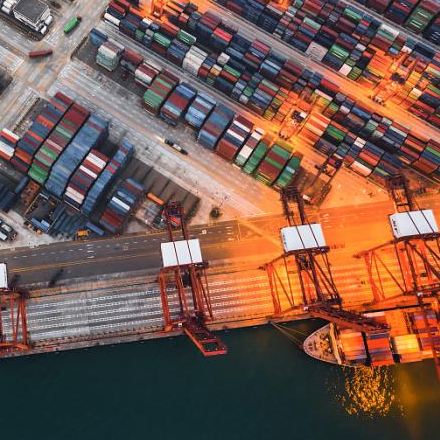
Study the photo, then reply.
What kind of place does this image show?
port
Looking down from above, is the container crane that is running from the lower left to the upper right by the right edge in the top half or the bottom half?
top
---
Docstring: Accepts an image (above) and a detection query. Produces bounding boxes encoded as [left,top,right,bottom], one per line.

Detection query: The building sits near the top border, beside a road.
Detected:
[12,0,52,31]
